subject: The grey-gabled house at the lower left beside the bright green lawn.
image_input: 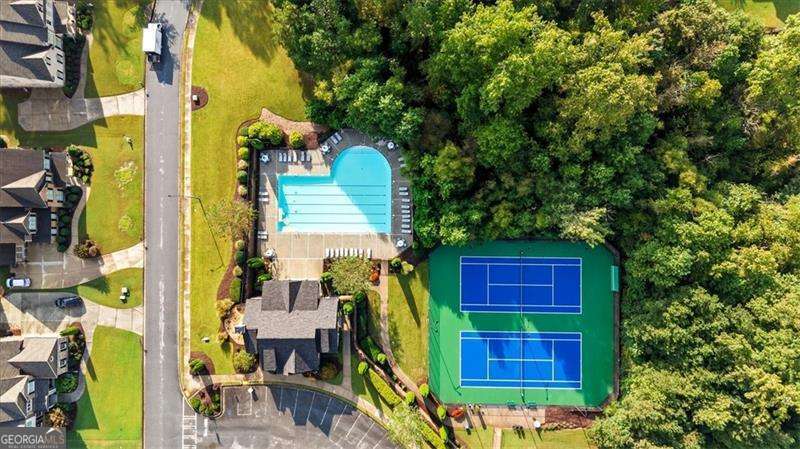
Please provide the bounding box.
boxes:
[0,336,67,449]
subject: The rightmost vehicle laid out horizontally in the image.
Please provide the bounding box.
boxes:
[55,296,80,308]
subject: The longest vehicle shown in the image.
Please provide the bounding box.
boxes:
[145,23,163,65]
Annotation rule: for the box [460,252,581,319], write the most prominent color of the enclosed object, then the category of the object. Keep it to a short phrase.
blue tennis court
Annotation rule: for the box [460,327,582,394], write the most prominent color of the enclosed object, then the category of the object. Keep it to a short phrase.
blue tennis court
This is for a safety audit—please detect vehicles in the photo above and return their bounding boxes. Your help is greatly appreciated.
[4,277,28,289]
[145,23,163,65]
[55,296,80,308]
